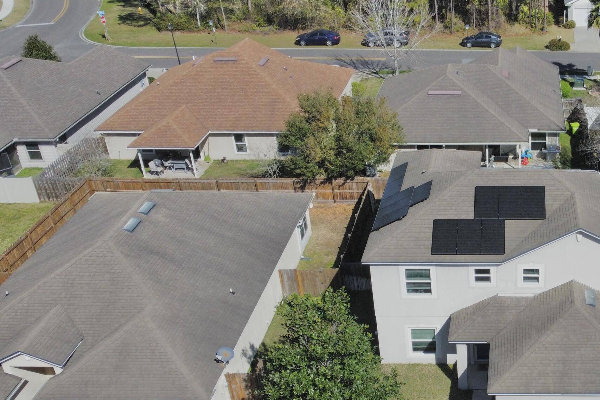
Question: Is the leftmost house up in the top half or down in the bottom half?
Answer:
top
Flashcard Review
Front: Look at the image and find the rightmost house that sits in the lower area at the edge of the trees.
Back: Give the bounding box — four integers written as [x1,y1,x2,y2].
[361,148,600,400]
